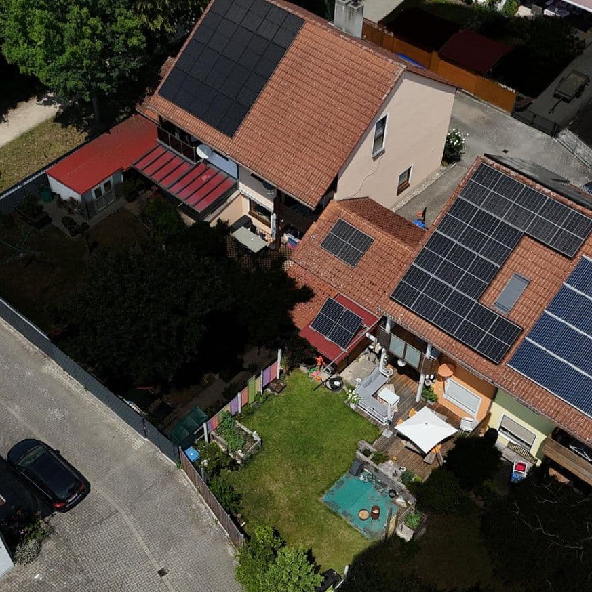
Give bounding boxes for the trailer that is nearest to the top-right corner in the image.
[549,68,591,112]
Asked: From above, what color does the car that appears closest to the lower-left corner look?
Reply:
black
